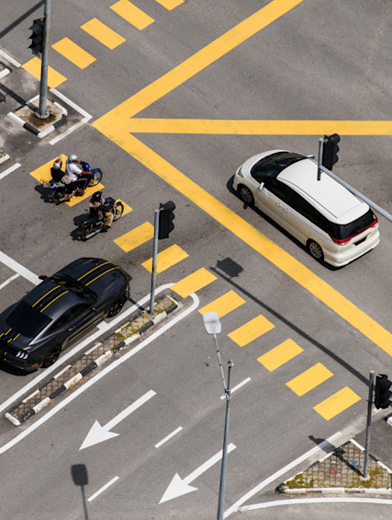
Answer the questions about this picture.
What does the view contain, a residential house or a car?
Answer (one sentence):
Looking from above, you can make out a car.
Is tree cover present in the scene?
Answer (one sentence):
No, no tree cover is visible.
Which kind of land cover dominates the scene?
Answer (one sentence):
For the most part, this view shows paved ground.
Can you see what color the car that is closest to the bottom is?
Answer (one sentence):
The car that is closest to the bottom is black.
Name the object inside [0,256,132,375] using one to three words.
car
